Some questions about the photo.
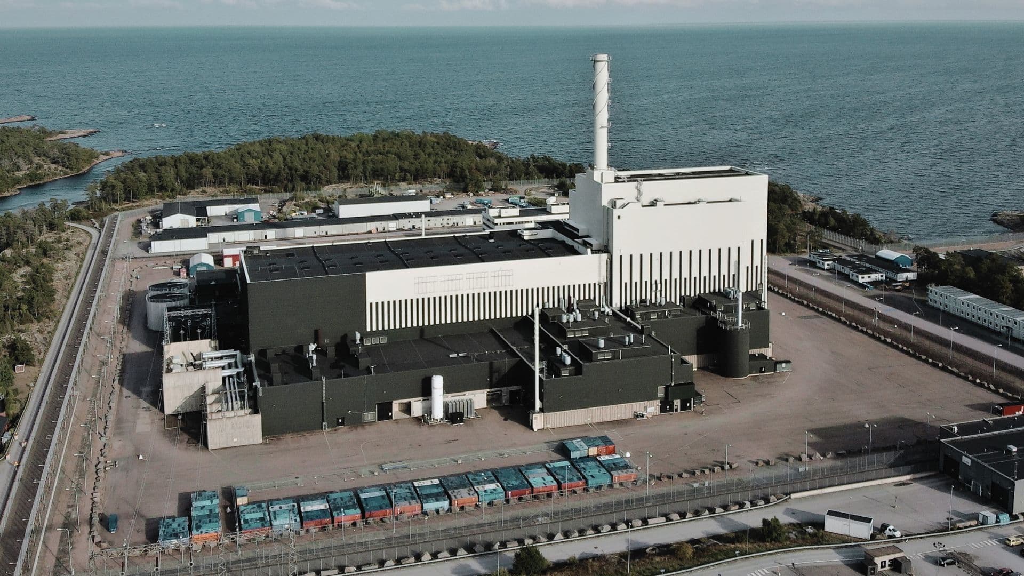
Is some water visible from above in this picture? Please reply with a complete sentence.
Yes, water shows up in the scene.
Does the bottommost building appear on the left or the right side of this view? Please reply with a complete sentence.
It is on the right.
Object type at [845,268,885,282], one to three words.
building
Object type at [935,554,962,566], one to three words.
vehicle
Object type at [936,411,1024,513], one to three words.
building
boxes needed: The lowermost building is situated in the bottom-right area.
[860,542,919,576]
